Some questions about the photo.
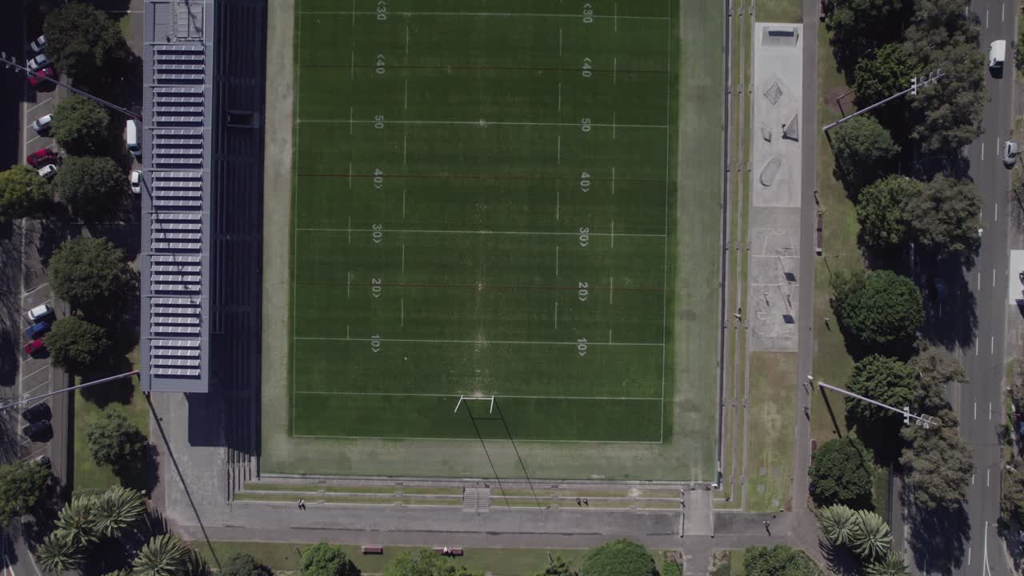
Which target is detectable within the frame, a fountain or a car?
car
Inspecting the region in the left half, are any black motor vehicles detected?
Yes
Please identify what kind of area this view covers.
sports ground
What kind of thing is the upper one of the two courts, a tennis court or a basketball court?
basketball court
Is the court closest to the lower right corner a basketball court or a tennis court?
basketball court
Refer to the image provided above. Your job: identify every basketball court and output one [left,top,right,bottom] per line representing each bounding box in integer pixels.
[752,206,801,287]
[751,284,800,351]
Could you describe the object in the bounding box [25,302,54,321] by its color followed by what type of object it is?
white car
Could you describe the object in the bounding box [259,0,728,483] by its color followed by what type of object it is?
green sports field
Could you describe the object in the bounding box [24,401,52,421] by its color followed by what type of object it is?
black car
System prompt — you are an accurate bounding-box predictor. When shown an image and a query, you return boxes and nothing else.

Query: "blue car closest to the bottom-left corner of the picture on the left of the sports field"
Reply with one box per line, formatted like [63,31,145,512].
[26,319,49,337]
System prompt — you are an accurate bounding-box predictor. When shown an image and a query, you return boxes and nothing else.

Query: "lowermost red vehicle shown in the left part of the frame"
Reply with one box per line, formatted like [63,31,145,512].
[24,336,45,354]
